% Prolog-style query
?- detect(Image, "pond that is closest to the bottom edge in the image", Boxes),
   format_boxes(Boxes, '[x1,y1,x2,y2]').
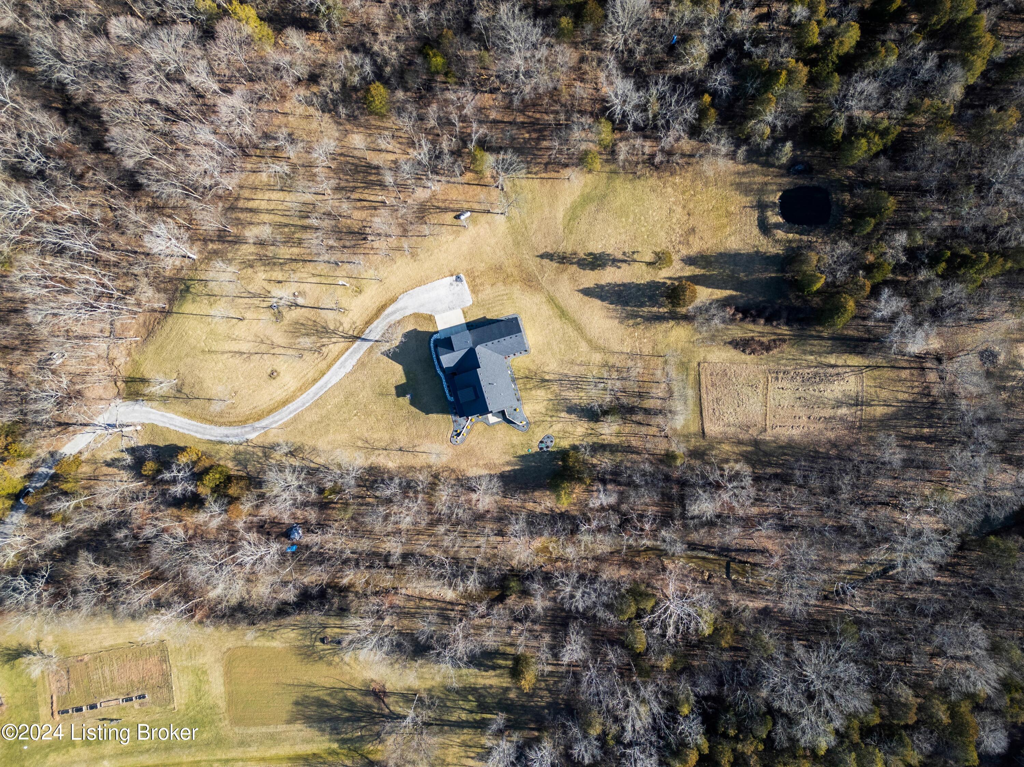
[777,186,831,227]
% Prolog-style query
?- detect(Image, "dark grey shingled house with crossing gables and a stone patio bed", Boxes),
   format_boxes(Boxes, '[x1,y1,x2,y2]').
[437,316,526,420]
